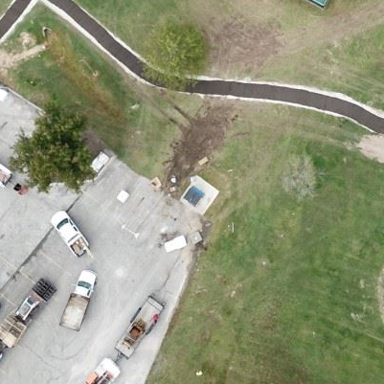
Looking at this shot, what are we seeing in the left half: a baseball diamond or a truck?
truck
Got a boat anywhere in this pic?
No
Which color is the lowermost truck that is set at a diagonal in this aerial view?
white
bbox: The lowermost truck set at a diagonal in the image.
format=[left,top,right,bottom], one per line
[85,352,122,384]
